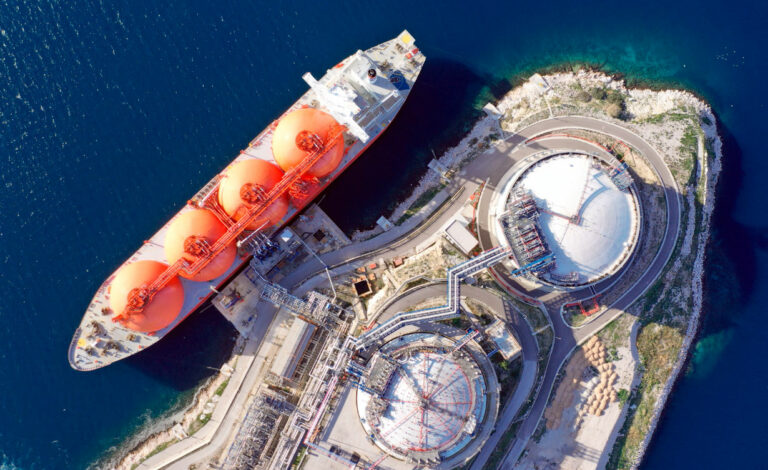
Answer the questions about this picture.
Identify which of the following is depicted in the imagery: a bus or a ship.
ship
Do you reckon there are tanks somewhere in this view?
Yes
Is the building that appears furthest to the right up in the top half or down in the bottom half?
bottom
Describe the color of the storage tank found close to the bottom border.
white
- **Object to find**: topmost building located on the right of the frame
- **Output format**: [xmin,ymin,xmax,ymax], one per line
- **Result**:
[444,220,478,253]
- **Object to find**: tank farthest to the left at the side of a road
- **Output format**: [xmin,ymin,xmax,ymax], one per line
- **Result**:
[357,317,503,470]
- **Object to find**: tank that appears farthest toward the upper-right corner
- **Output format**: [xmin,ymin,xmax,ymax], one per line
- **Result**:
[486,148,641,292]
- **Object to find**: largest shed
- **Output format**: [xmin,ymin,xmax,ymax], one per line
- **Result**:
[268,315,316,380]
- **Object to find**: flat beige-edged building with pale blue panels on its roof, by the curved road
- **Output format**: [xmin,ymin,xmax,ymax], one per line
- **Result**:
[479,314,522,361]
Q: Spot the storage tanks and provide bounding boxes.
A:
[486,148,641,292]
[357,317,503,470]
